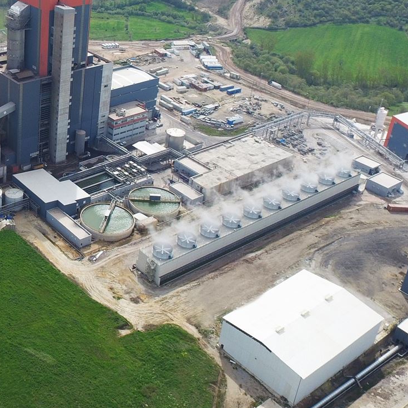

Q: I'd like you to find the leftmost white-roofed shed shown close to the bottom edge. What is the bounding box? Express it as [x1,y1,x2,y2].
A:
[218,269,379,405]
